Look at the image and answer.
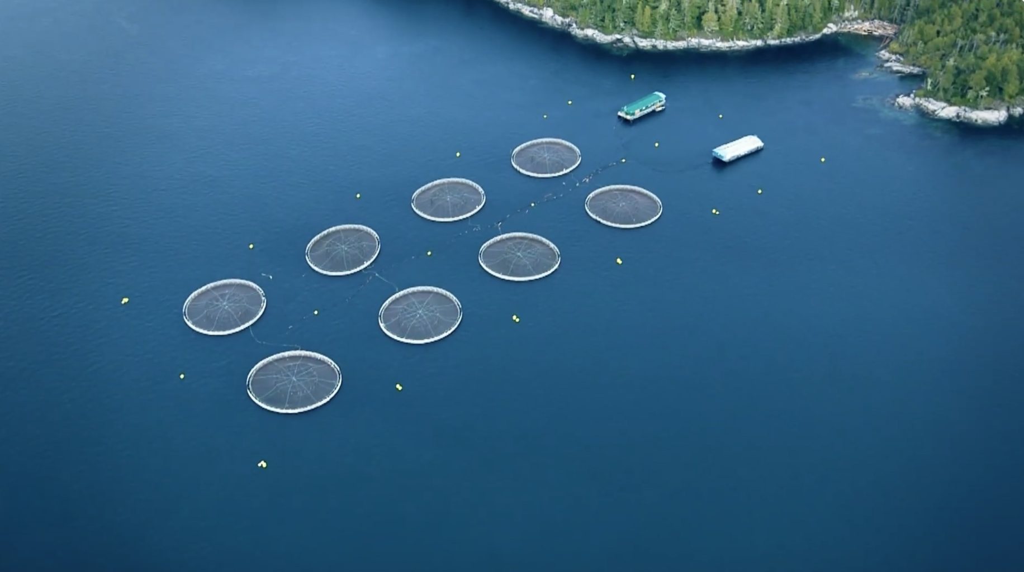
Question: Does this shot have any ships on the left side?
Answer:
No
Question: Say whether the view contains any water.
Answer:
Yes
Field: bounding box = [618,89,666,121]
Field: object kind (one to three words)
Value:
ship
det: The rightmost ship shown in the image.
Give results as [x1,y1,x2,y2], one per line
[714,133,765,163]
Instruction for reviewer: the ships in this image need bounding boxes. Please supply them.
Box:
[714,133,765,163]
[618,89,666,121]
